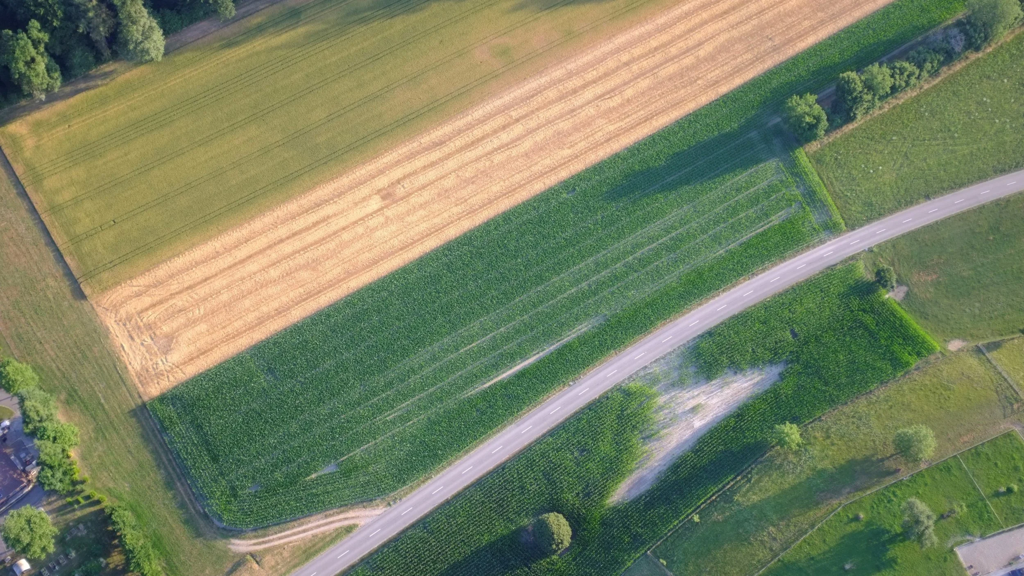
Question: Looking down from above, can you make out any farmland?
Yes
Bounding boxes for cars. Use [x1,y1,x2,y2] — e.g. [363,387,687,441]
[0,426,9,438]
[0,415,11,428]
